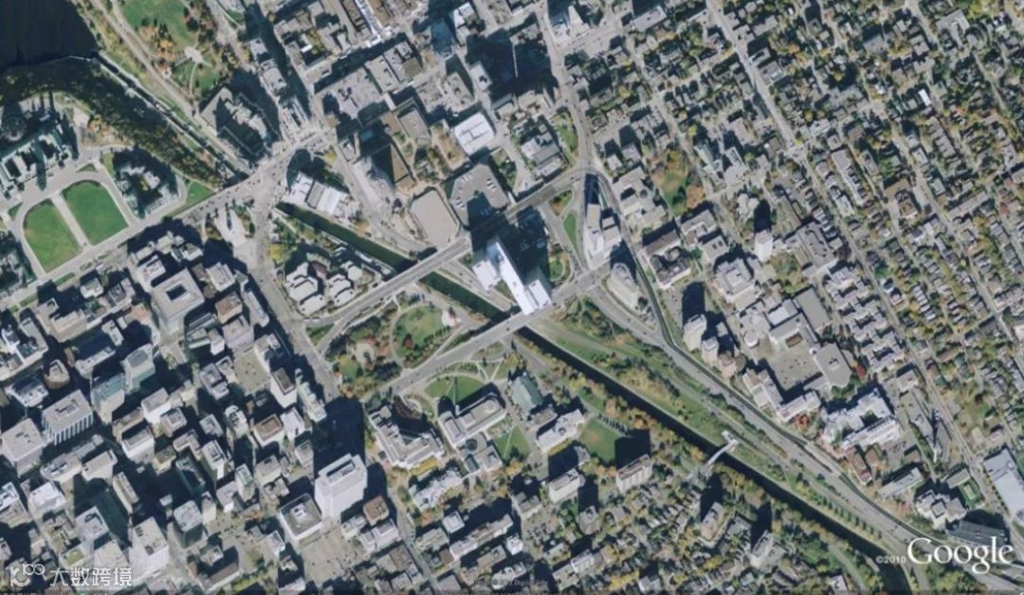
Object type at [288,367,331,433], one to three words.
building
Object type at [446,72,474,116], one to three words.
building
